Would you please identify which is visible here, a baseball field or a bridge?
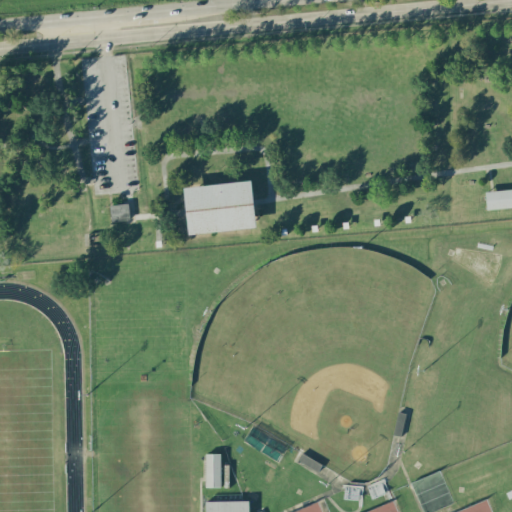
baseball field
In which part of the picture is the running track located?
bottom left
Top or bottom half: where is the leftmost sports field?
bottom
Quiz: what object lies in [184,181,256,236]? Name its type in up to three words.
building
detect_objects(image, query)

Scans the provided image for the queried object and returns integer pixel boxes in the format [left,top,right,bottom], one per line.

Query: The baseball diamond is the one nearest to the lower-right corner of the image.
[192,248,435,482]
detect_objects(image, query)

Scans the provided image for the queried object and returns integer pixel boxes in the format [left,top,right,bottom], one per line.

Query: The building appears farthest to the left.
[111,204,130,223]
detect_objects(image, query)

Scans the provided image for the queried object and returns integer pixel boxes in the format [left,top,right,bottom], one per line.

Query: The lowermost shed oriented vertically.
[206,454,222,488]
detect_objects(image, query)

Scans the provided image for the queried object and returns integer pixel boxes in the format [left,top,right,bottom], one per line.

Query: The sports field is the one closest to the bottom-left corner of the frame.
[0,348,56,512]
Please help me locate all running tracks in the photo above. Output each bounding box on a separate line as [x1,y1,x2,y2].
[0,281,88,512]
